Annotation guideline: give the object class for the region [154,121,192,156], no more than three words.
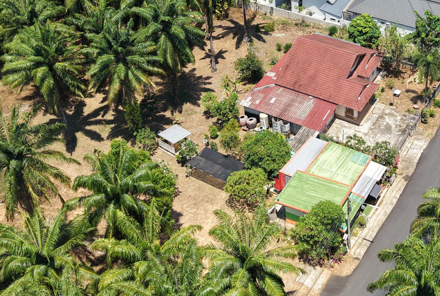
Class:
shed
